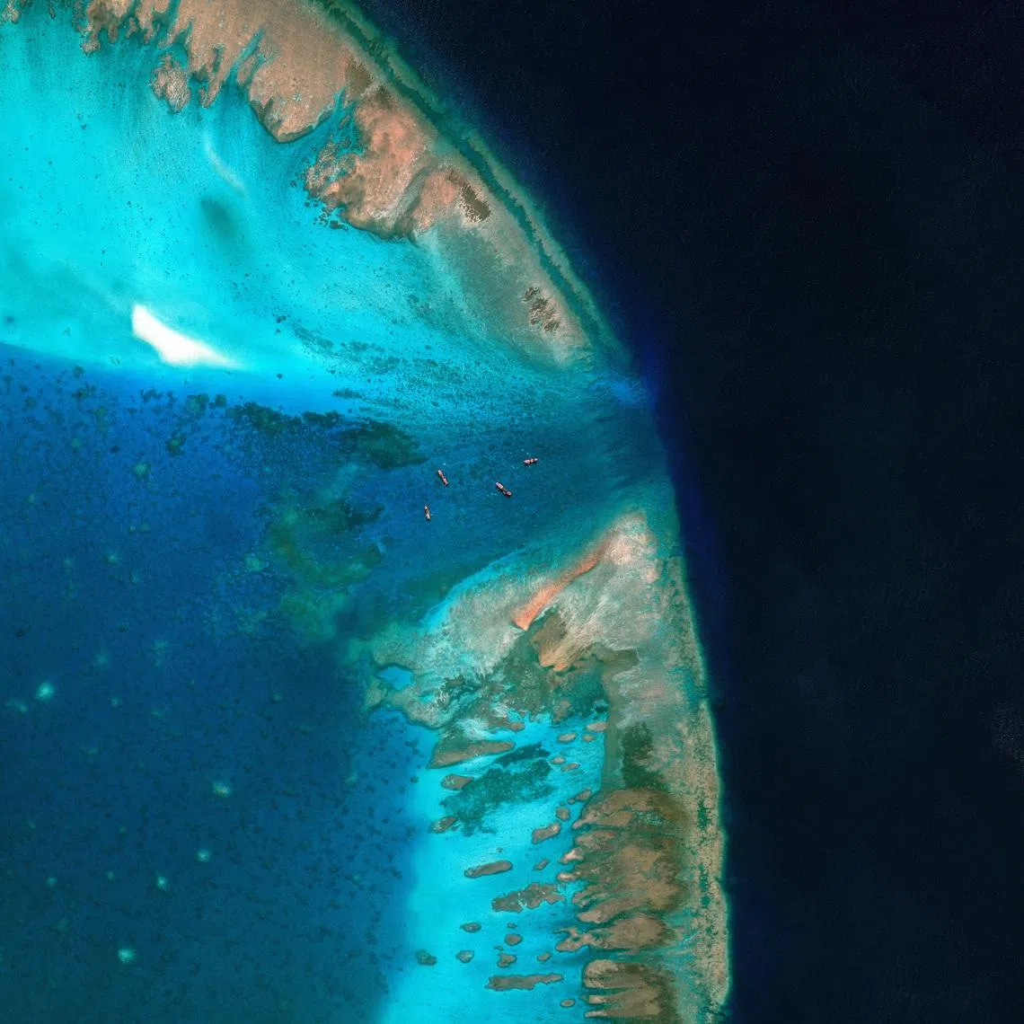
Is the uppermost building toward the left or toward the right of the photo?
left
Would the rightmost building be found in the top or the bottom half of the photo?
bottom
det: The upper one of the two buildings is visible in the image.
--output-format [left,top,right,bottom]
[0,0,647,393]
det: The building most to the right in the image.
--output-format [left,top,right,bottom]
[360,498,735,1024]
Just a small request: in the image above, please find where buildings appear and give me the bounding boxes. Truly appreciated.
[360,498,735,1024]
[0,0,647,393]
